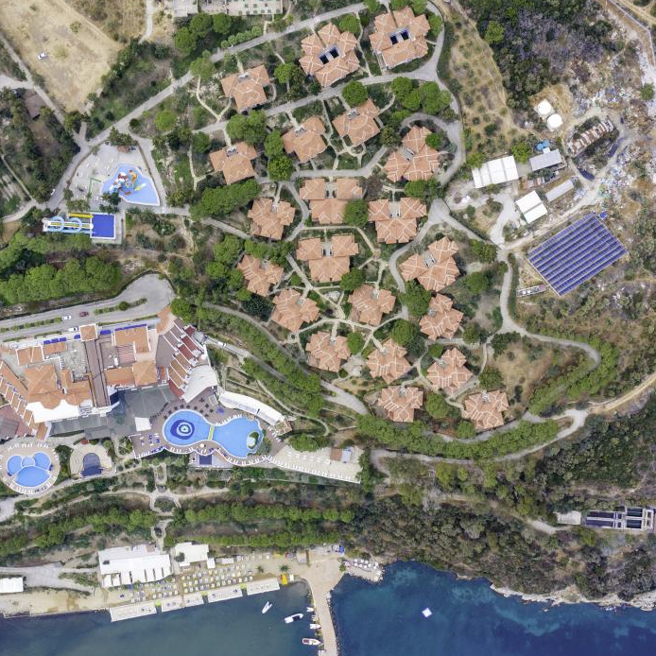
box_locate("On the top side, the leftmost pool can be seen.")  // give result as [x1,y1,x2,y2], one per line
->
[90,213,116,239]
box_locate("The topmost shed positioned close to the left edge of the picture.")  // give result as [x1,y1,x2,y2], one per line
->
[22,91,43,118]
